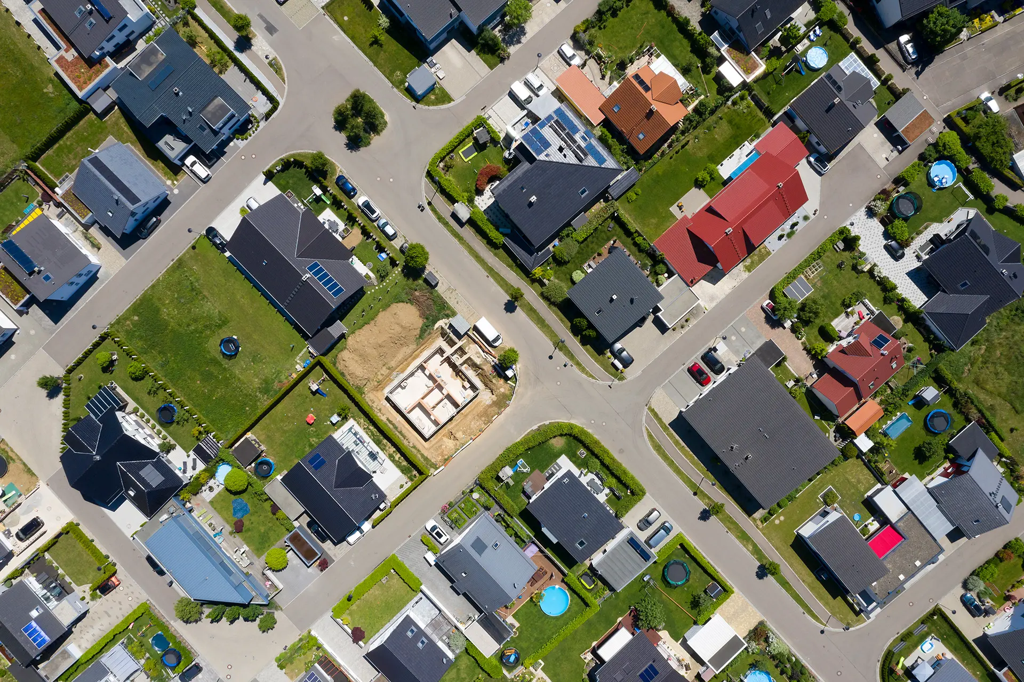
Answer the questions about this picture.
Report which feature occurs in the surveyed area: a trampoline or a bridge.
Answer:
trampoline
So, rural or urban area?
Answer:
urban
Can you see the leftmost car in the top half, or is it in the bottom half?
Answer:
bottom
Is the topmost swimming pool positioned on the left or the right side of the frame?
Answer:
right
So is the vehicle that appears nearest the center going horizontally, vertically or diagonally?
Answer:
diagonally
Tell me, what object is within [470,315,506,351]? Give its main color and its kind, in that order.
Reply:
white vehicle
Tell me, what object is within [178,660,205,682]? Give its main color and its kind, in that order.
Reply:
black car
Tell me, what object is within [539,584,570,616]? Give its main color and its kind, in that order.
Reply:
blue swimming pool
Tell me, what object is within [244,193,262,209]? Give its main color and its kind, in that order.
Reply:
white car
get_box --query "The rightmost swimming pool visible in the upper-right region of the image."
[925,160,957,191]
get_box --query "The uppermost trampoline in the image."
[457,141,479,163]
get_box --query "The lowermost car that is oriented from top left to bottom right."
[957,591,986,619]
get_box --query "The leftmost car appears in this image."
[14,515,47,541]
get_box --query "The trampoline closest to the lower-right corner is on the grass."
[923,409,956,435]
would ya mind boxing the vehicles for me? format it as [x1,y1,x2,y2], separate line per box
[98,574,124,596]
[183,154,213,184]
[375,217,400,242]
[608,340,636,370]
[635,507,663,531]
[642,519,675,549]
[957,591,986,619]
[137,214,164,240]
[508,77,535,107]
[14,515,47,541]
[244,193,262,209]
[355,194,383,223]
[470,315,506,351]
[196,148,219,169]
[699,348,727,376]
[686,361,713,387]
[557,41,584,69]
[178,660,205,682]
[522,71,549,98]
[424,518,452,547]
[344,520,373,544]
[397,241,411,255]
[759,298,780,322]
[334,174,359,199]
[806,151,831,177]
[896,34,919,64]
[204,225,228,252]
[881,238,906,262]
[144,553,169,578]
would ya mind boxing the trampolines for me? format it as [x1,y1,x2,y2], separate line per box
[152,404,176,422]
[0,456,10,474]
[457,141,479,163]
[923,409,956,435]
[578,570,597,588]
[501,648,520,667]
[894,191,925,219]
[251,458,275,478]
[219,337,239,357]
[663,559,692,589]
